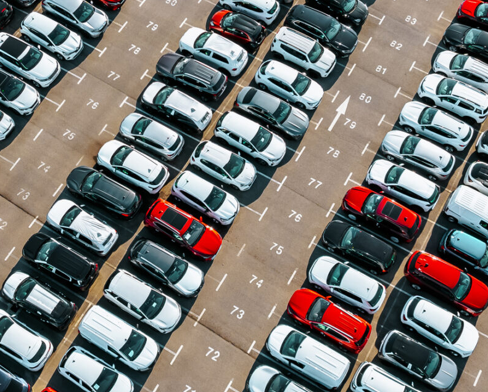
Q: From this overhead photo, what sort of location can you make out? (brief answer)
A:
parking lot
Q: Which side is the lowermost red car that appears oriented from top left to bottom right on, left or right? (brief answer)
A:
right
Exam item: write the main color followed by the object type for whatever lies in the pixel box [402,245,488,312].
red car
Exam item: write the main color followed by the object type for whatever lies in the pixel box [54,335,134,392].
white car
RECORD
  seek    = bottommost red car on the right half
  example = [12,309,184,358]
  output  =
[286,287,371,349]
